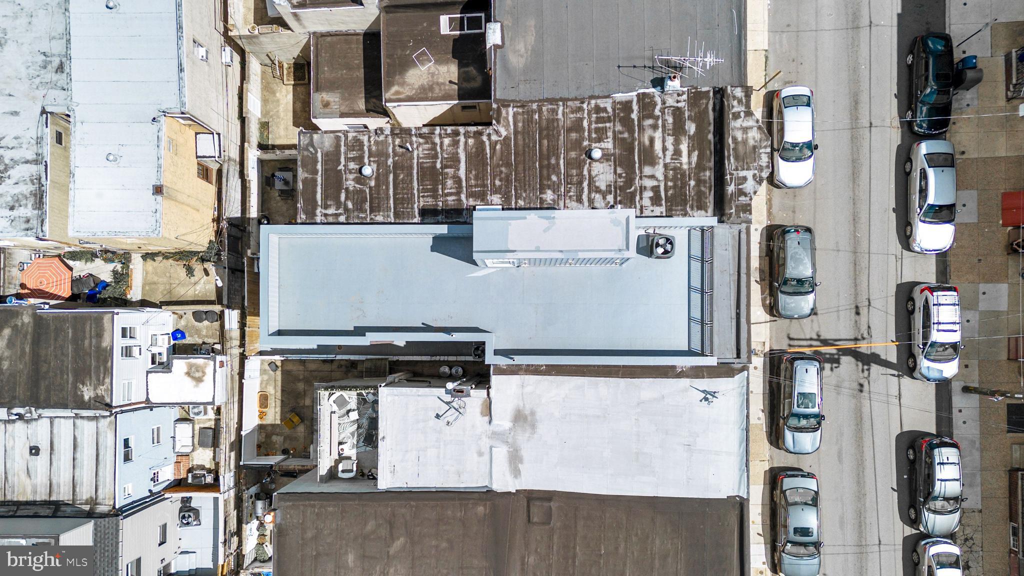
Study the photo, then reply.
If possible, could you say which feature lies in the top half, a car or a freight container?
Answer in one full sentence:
There is a car in the top half.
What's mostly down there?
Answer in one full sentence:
The largest share of the image is taken up by buildings.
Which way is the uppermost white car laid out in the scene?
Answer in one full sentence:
The uppermost white car has been laid out vertically relative to the frame.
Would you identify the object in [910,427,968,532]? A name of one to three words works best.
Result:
car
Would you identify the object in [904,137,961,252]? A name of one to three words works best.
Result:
car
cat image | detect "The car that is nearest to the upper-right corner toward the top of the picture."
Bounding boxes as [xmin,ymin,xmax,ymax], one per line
[903,29,958,136]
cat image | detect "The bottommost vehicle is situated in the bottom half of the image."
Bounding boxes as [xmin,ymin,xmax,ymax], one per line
[913,530,964,576]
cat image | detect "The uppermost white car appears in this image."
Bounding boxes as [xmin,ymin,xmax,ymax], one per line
[770,83,820,189]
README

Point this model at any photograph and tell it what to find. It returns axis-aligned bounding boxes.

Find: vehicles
[908,278,966,382]
[772,465,826,576]
[904,137,961,252]
[913,530,964,576]
[910,427,968,532]
[903,29,958,136]
[775,346,828,454]
[770,83,820,189]
[771,220,821,319]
